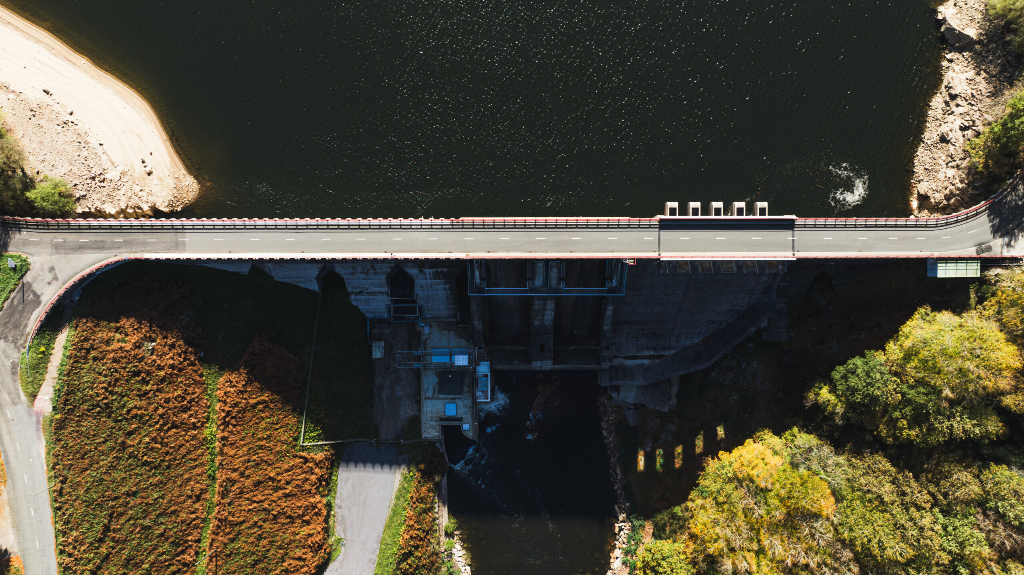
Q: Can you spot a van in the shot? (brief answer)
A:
No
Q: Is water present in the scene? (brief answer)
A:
Yes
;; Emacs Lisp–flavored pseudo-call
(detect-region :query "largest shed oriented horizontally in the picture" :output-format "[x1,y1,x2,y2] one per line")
[924,261,980,277]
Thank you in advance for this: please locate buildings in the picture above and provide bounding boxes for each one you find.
[924,261,980,277]
[418,321,491,439]
[372,341,385,358]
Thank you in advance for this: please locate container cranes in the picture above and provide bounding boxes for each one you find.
[395,349,476,368]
